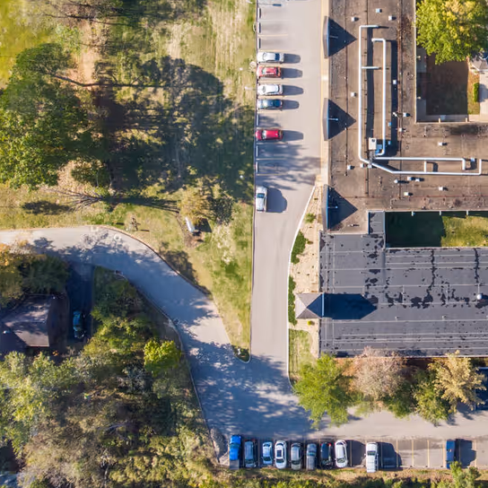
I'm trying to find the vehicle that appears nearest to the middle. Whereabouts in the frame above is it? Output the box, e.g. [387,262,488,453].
[255,184,268,211]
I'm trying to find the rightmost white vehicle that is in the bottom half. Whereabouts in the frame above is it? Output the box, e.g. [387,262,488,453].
[365,440,378,473]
